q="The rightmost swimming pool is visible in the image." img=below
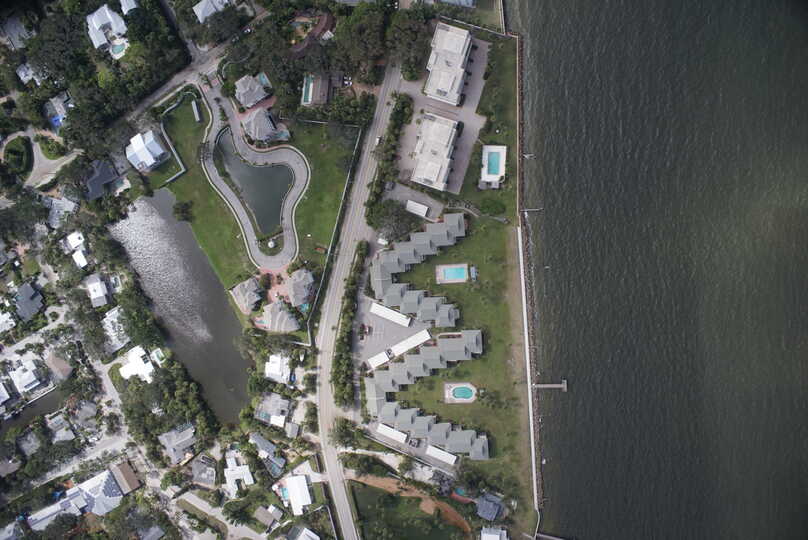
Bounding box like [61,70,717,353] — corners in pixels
[481,145,507,183]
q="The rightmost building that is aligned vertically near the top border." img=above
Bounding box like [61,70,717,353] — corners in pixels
[424,24,472,106]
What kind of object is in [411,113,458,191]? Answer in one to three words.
building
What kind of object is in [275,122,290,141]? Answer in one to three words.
swimming pool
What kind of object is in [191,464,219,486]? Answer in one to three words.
house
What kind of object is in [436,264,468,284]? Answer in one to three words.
swimming pool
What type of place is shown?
residential area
